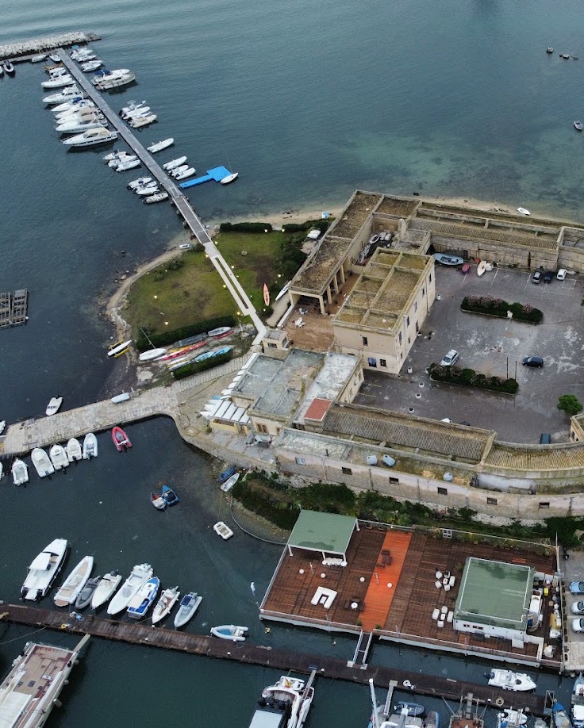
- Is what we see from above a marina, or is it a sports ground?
marina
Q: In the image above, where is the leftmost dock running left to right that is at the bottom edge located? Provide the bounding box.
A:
[0,603,557,716]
